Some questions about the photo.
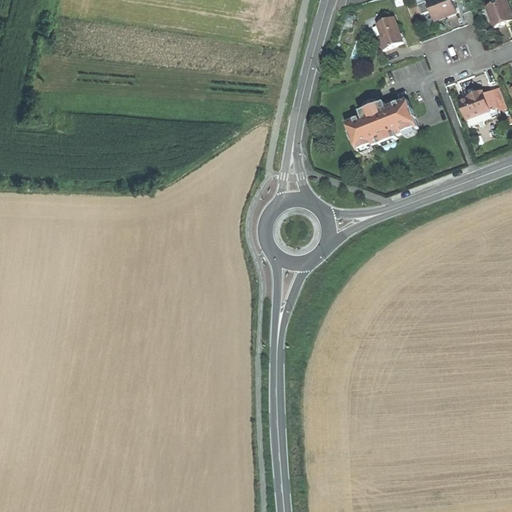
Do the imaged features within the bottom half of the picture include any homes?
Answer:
No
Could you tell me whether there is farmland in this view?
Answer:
Yes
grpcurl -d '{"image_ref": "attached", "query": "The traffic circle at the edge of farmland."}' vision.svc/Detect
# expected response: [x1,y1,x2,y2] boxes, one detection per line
[252,126,384,350]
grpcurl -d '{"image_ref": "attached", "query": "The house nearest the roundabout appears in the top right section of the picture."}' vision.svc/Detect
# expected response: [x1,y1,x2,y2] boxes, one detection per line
[344,98,420,155]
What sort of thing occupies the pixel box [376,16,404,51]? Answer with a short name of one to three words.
house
